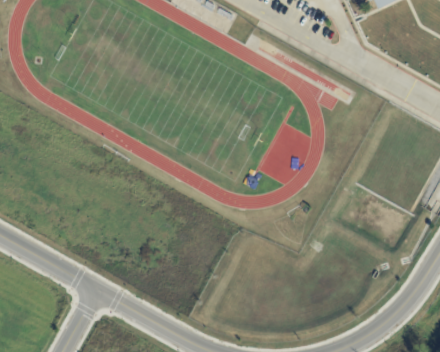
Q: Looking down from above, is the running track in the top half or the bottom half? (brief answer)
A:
top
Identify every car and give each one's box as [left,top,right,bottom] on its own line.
[312,23,320,32]
[314,10,320,20]
[272,0,279,9]
[300,16,306,25]
[281,5,288,14]
[322,26,329,36]
[296,0,304,8]
[318,12,324,21]
[309,8,316,17]
[301,2,308,11]
[326,30,334,39]
[276,2,284,12]
[305,5,312,15]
